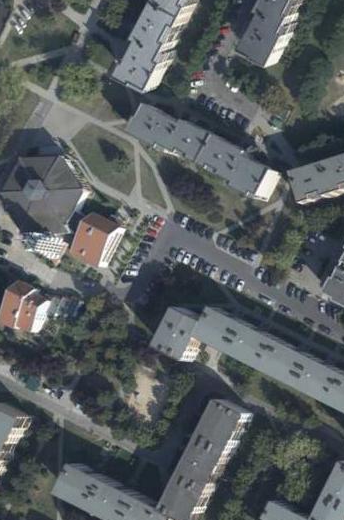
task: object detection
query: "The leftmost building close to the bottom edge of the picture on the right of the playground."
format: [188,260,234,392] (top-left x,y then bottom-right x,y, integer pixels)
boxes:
[160,398,255,520]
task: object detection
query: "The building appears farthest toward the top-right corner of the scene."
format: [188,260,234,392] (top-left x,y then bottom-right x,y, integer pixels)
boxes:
[236,0,309,71]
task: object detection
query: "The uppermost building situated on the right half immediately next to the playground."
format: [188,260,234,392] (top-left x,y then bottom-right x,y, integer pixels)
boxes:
[149,306,344,414]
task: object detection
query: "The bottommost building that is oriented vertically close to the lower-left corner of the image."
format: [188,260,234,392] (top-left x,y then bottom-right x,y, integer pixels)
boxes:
[0,399,34,475]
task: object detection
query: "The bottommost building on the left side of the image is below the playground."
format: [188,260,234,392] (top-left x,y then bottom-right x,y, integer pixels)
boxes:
[51,461,178,520]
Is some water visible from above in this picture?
No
